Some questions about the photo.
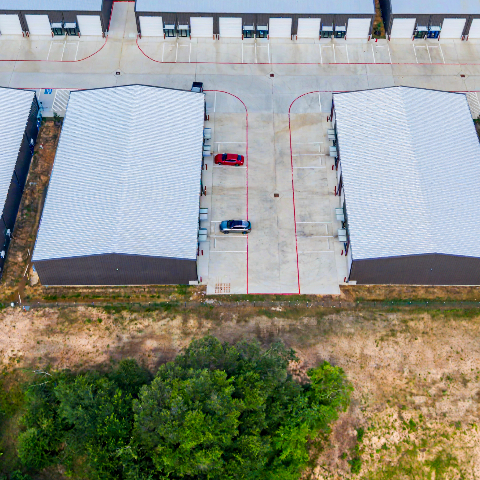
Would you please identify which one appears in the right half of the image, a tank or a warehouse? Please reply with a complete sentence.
The feature located in the right half of the image is a warehouse.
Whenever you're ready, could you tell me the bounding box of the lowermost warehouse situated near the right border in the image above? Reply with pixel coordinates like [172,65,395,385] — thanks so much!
[326,84,480,287]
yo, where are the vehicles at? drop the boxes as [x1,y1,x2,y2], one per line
[215,155,245,168]
[190,82,202,91]
[219,221,251,237]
